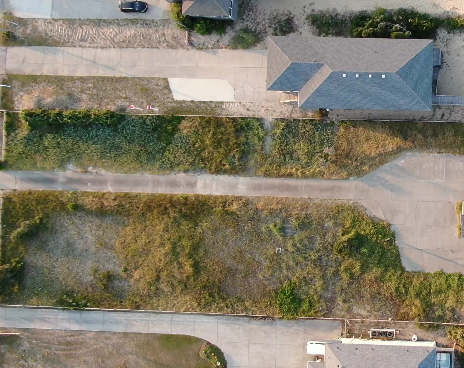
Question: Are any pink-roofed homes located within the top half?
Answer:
No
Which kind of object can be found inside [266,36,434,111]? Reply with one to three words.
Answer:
house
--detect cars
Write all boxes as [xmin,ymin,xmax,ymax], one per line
[117,0,146,13]
[300,342,325,358]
